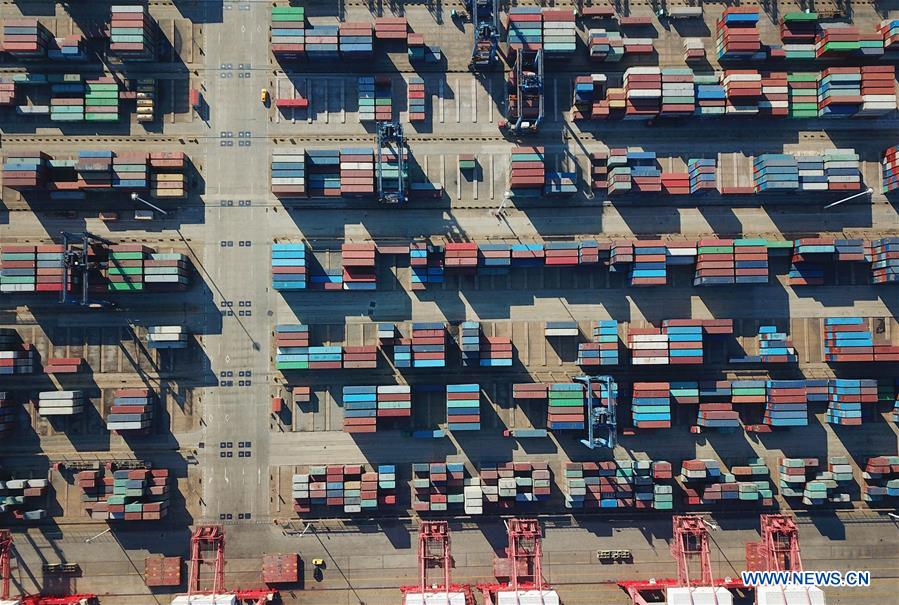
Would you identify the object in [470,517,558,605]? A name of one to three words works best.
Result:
container crane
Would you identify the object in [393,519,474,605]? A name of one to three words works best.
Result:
container crane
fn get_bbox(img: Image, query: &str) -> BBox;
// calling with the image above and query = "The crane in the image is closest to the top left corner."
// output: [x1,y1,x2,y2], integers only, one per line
[59,231,120,308]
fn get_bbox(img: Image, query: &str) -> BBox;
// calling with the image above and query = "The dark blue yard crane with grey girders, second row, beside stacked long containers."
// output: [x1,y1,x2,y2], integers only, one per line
[505,47,544,133]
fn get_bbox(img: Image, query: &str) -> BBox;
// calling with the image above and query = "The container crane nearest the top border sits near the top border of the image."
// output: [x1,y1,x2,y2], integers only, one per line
[464,0,500,68]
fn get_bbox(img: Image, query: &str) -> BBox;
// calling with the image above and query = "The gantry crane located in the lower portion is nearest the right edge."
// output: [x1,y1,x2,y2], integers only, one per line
[720,514,822,605]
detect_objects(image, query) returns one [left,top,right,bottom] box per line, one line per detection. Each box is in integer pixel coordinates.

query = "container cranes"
[470,517,558,605]
[720,514,822,605]
[375,119,410,211]
[0,526,103,605]
[505,47,544,133]
[569,373,615,445]
[59,231,120,308]
[610,515,730,605]
[464,0,500,68]
[170,522,284,605]
[393,519,474,605]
